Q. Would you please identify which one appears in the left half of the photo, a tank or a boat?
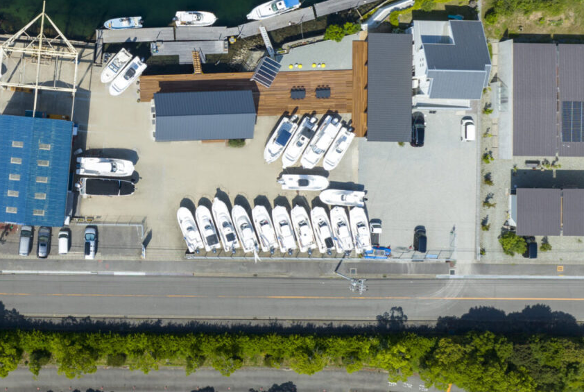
boat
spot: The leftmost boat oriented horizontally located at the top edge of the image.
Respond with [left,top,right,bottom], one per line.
[104,17,147,29]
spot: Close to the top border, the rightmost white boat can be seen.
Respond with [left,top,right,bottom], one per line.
[247,0,302,18]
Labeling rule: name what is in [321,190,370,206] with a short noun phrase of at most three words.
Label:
boat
